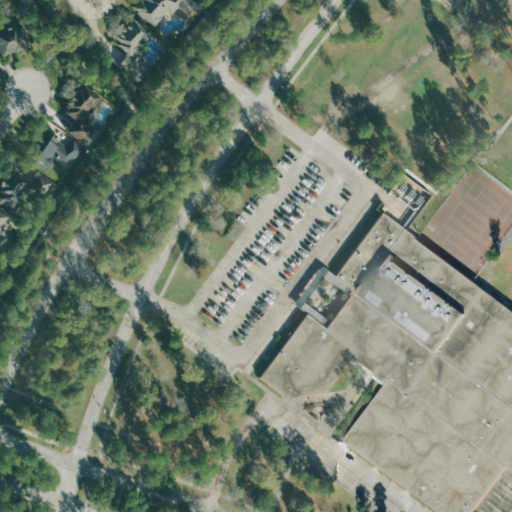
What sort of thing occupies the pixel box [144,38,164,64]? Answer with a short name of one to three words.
swimming pool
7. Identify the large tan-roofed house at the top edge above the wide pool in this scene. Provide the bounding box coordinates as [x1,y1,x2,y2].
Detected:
[132,0,188,28]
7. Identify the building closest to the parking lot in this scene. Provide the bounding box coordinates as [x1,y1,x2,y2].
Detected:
[260,212,512,512]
